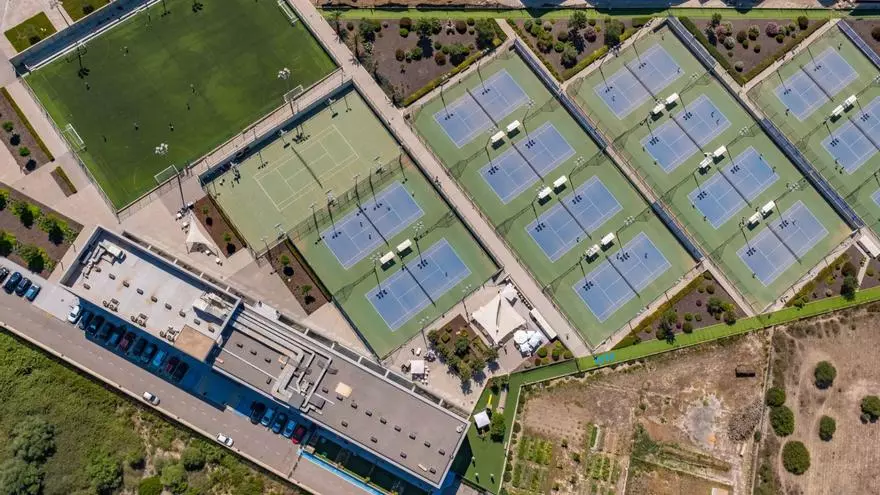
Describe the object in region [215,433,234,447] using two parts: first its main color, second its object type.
white vehicle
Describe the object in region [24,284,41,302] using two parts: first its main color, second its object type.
blue car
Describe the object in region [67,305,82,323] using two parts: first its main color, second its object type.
white car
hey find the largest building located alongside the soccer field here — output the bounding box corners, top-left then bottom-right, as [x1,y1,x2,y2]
[58,224,470,487]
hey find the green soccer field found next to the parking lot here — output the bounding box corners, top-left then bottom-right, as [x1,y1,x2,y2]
[26,0,339,211]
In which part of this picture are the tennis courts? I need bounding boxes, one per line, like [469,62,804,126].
[614,71,757,197]
[798,77,880,196]
[334,212,498,358]
[290,156,453,297]
[710,176,857,314]
[567,21,710,142]
[499,153,649,287]
[547,208,699,351]
[662,123,805,254]
[453,99,601,229]
[750,21,880,142]
[206,88,408,255]
[406,46,555,171]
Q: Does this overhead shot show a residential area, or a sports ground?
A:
sports ground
